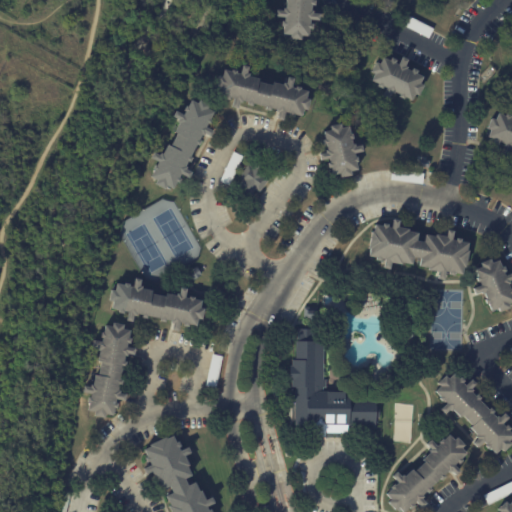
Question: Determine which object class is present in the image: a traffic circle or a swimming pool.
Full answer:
Visible in the photo is a swimming pool.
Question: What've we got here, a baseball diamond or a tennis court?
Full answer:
It is a tennis court that can be seen here.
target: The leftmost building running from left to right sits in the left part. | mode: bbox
[108,282,204,329]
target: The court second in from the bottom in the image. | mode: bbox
[432,320,462,350]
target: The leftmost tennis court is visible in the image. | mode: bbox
[128,224,164,273]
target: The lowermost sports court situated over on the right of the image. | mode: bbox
[392,404,414,444]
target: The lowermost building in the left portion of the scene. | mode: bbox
[145,436,210,512]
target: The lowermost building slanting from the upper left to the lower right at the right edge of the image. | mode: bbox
[438,374,512,456]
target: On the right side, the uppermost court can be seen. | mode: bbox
[432,290,462,320]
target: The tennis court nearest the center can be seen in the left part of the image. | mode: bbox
[154,210,192,257]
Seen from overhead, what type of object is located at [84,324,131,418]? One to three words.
building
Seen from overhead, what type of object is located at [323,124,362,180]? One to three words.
building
